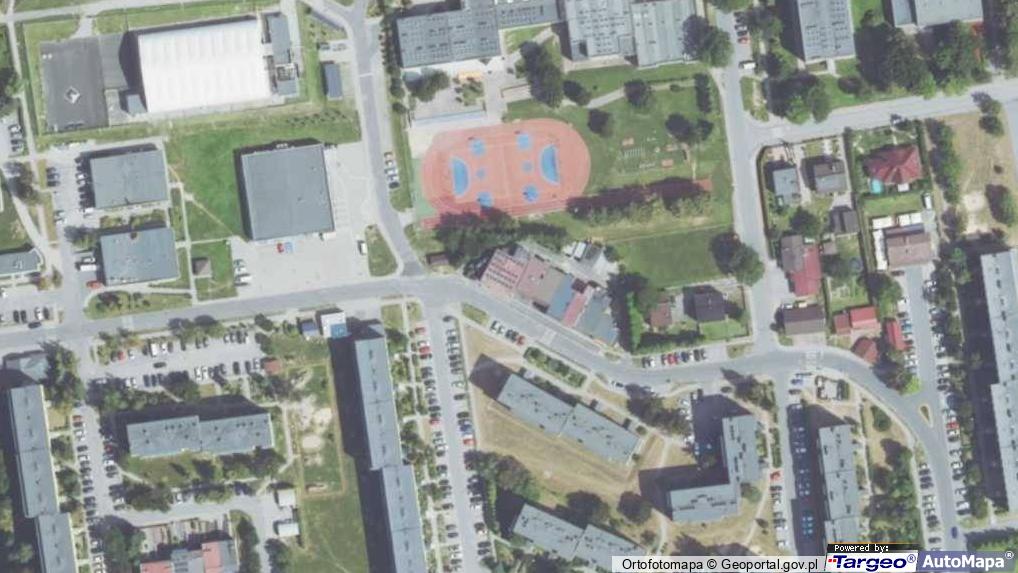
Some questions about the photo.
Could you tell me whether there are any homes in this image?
Yes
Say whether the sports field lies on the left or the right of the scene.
right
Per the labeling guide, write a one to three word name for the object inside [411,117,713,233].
sports court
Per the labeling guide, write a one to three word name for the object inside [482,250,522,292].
building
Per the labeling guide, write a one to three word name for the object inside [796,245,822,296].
house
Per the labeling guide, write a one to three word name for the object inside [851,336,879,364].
shed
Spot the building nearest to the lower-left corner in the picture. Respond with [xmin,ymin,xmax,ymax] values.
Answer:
[37,511,81,573]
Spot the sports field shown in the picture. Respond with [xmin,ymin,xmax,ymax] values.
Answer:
[612,230,738,288]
